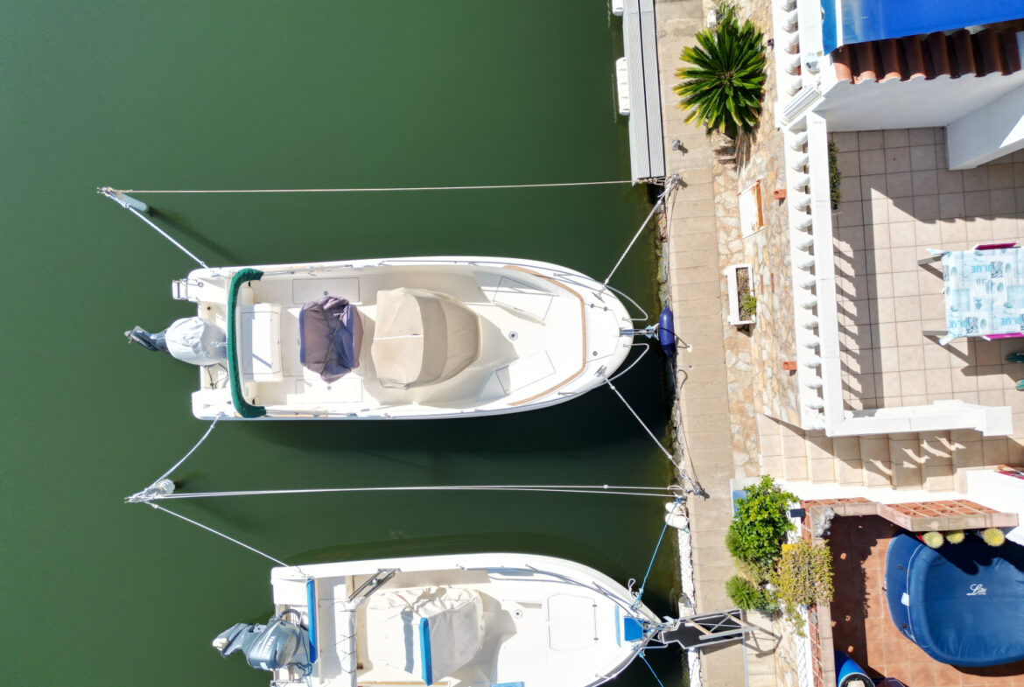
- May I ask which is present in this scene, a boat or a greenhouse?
boat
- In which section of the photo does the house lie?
top right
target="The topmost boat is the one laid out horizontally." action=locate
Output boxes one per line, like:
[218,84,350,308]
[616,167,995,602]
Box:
[123,255,658,421]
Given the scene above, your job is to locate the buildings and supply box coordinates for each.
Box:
[771,0,1024,169]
